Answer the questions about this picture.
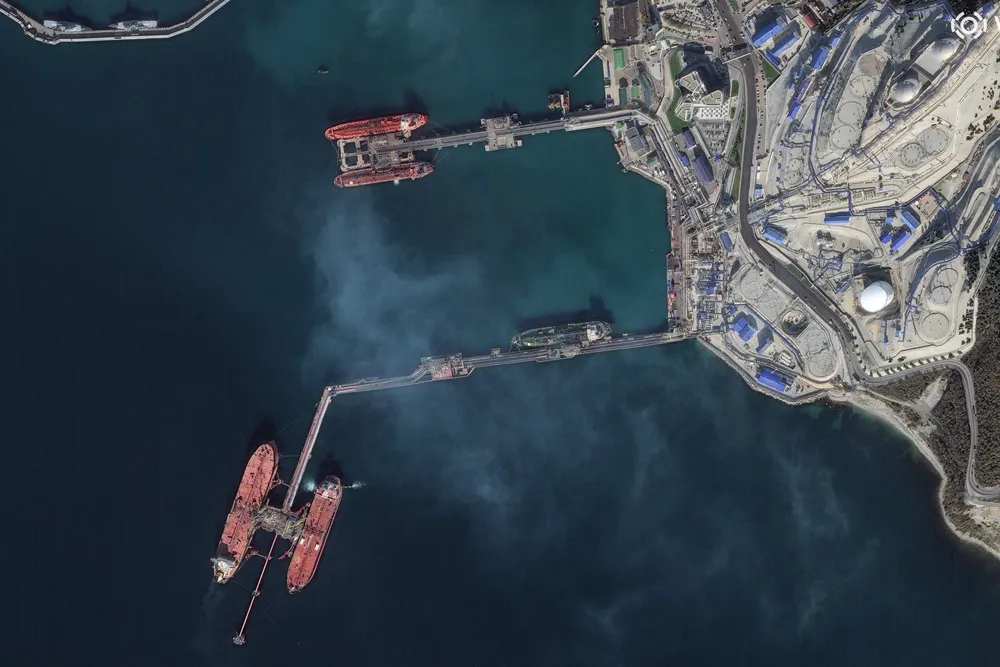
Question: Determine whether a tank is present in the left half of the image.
No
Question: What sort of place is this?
port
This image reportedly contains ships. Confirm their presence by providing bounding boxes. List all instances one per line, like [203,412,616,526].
[285,473,341,593]
[333,162,437,188]
[324,111,431,140]
[107,20,159,28]
[210,442,276,585]
[549,93,562,109]
[43,20,93,33]
[512,321,615,351]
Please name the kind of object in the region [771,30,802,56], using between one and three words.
building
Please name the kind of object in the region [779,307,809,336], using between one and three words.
storage tank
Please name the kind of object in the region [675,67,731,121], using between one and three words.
building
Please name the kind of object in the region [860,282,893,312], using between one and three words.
storage tank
